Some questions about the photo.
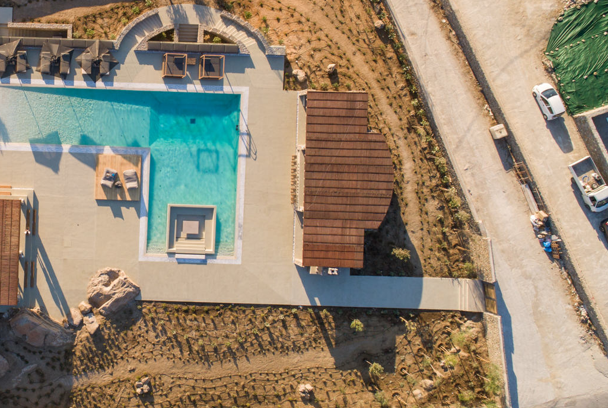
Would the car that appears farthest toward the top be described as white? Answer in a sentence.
Yes, the car that appears farthest toward the top is indeed white.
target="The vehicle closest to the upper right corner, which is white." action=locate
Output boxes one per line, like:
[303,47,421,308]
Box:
[531,78,570,123]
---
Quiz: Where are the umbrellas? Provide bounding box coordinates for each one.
[0,40,31,79]
[76,41,119,82]
[36,42,74,79]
